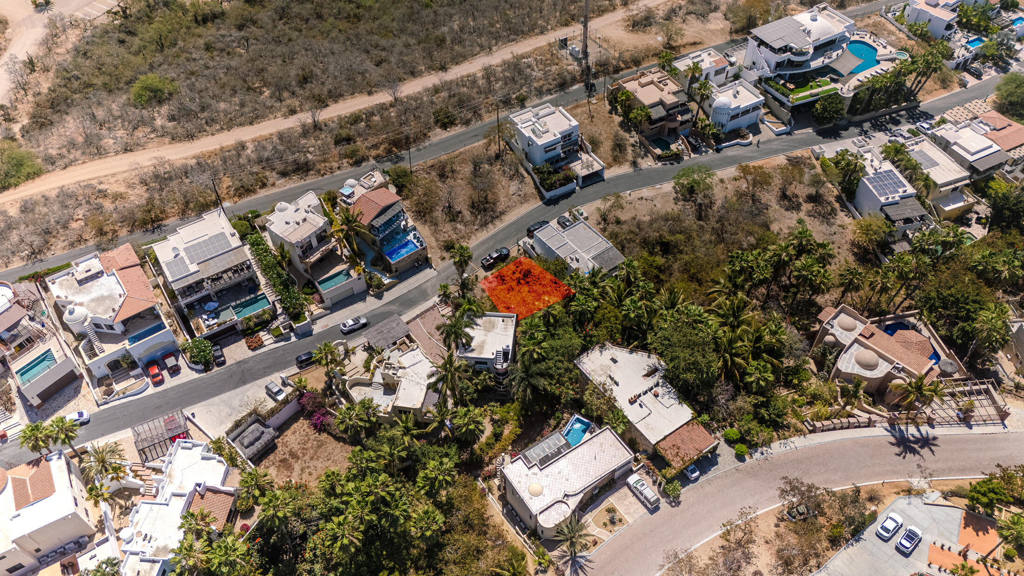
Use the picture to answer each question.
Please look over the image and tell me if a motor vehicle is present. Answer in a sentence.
Yes, there's a motor vehicle down there.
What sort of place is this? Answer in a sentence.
This looks like a residential area.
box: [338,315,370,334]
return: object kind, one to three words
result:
car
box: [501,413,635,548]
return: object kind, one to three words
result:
house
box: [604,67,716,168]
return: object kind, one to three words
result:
house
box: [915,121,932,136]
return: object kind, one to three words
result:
car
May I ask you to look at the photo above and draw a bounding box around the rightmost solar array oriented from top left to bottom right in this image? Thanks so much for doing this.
[910,149,939,169]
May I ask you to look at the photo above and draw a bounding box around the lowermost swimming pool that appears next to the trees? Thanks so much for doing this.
[561,413,593,448]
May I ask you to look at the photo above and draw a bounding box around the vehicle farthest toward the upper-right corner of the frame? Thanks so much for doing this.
[962,65,984,79]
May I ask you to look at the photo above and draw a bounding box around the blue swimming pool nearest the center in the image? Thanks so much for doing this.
[383,239,420,262]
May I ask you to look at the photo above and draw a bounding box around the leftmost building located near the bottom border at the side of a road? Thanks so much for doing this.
[0,449,126,576]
